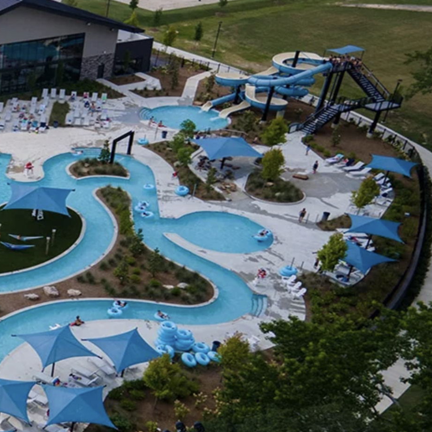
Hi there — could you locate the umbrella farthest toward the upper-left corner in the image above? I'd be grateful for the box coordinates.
[1,183,75,223]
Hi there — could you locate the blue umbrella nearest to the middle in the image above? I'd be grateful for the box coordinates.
[188,136,265,171]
